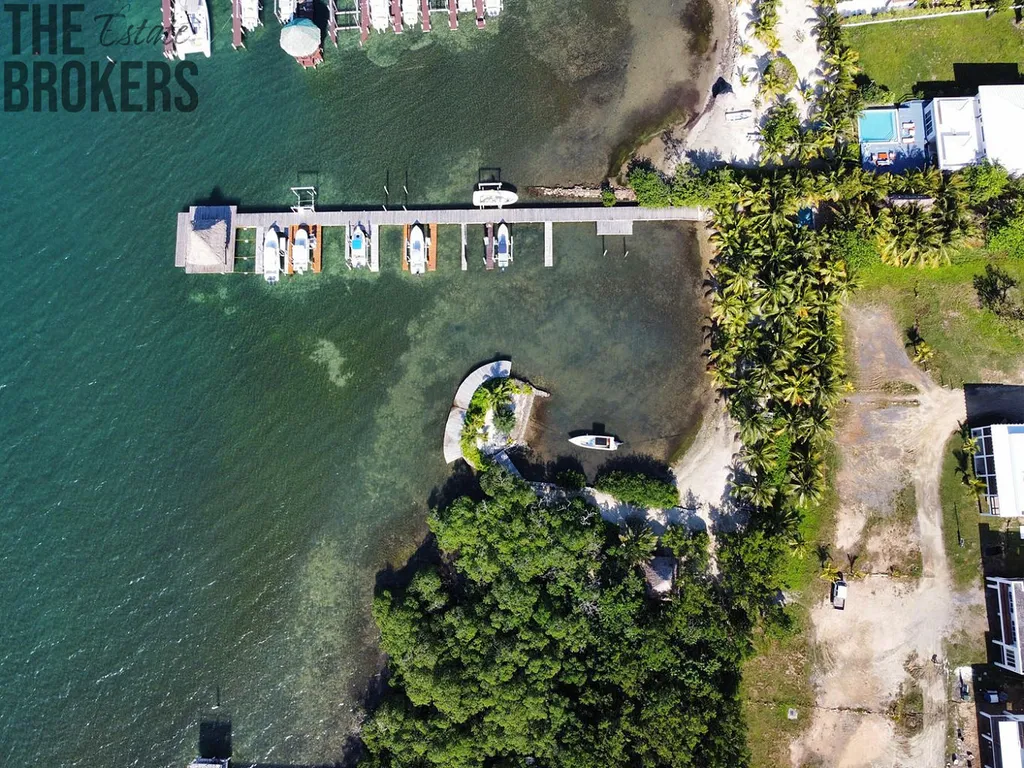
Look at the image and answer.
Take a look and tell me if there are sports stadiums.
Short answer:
No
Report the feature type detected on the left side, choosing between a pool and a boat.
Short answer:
boat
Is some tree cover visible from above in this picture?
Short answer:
Yes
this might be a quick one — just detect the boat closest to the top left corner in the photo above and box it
[174,0,214,63]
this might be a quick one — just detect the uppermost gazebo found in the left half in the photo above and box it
[281,0,325,71]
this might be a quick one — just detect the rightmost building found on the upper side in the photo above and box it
[922,83,1024,185]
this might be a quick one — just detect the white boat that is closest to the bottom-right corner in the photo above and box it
[569,435,621,452]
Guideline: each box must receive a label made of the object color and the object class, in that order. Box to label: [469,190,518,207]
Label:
white boat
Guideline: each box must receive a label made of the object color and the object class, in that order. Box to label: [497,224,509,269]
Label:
white boat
